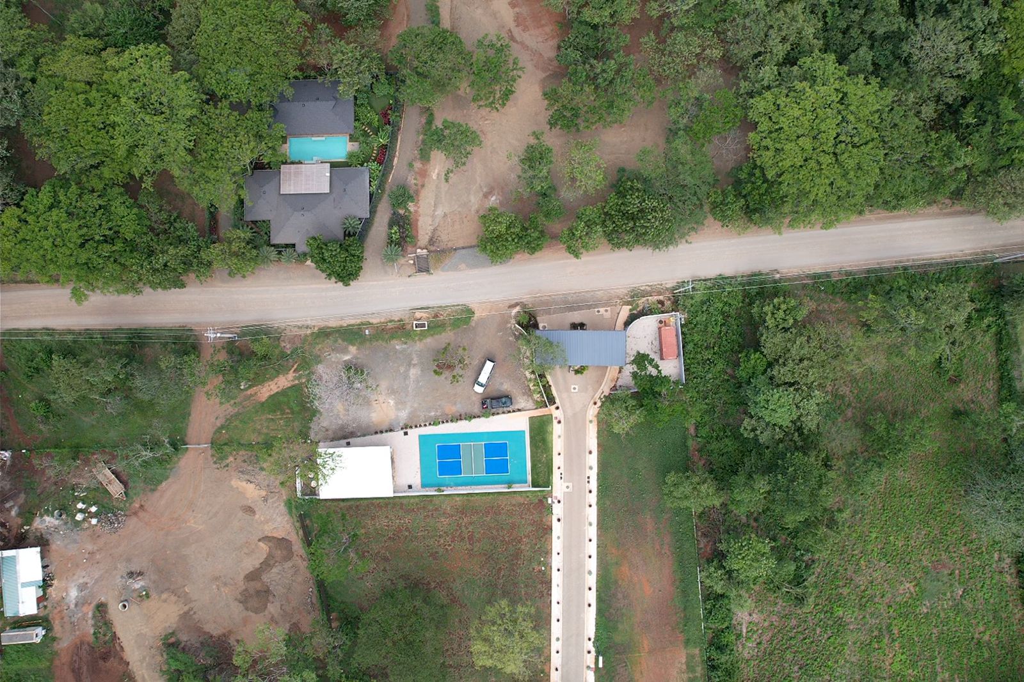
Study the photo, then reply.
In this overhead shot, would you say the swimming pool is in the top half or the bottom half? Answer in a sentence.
The swimming pool is in the top half of the image.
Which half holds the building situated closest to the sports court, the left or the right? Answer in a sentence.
You can find the building situated closest to the sports court on the left side of the picture.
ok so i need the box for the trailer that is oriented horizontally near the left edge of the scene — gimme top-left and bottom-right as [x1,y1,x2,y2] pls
[1,627,49,645]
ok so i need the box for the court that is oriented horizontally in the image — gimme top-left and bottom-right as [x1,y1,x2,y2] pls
[419,430,529,489]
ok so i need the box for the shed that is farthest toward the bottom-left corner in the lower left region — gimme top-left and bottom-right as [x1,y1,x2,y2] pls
[0,545,51,617]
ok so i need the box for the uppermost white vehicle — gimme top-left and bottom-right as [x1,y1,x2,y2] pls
[475,359,495,393]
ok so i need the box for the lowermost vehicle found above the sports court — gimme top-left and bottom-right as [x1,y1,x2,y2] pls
[481,397,512,410]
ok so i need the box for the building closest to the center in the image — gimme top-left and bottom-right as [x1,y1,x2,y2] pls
[318,445,395,500]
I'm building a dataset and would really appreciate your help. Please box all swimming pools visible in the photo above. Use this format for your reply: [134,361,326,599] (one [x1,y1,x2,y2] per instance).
[287,134,349,162]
